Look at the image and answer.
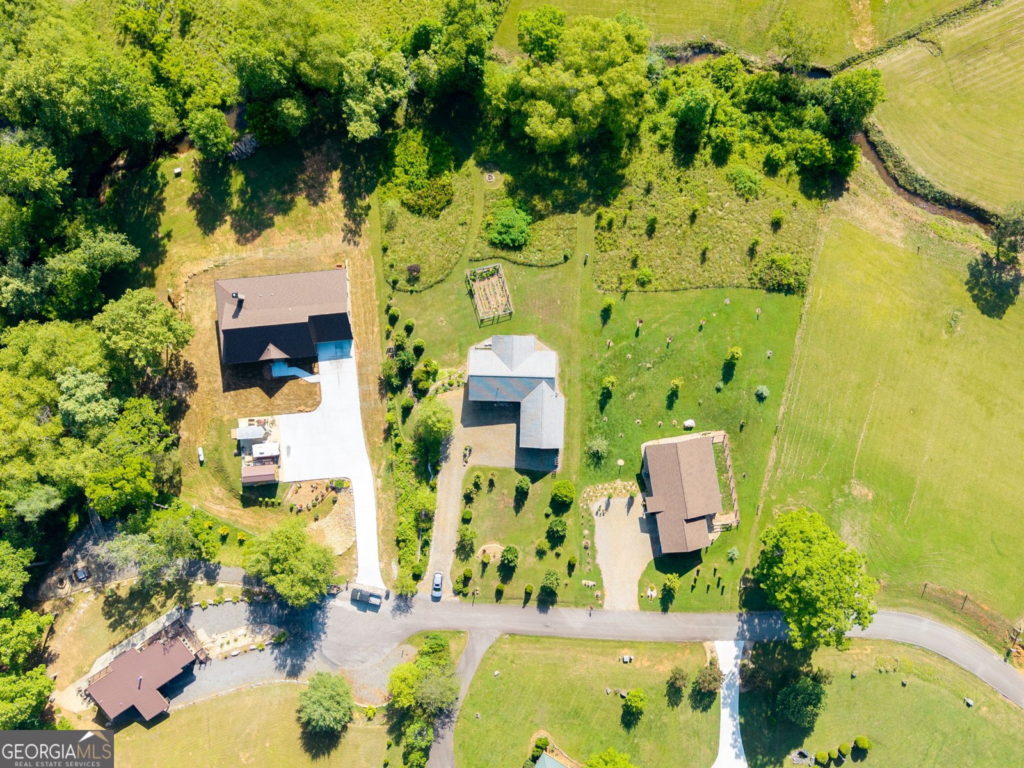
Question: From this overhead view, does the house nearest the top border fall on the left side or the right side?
left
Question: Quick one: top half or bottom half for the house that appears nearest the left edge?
bottom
